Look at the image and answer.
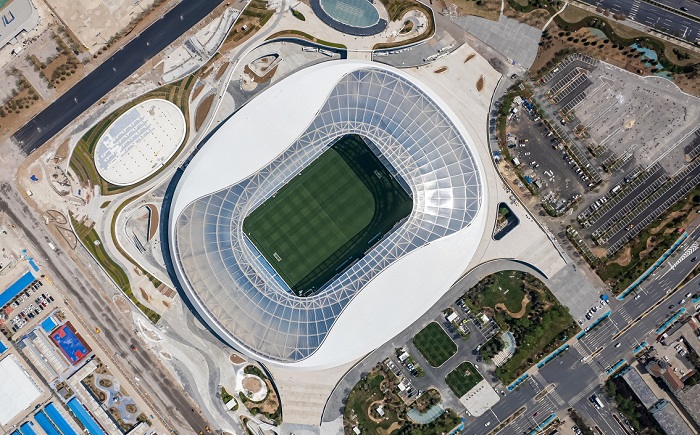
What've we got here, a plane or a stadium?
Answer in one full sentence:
Visible in the photo is a stadium.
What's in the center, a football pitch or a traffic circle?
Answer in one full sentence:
What appears in the center is a football pitch.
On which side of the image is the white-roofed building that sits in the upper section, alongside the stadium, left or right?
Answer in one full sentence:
The white-roofed building that sits in the upper section, alongside the stadium is on the left side of the image.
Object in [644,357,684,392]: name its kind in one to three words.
house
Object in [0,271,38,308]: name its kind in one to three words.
shed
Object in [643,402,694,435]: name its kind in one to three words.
building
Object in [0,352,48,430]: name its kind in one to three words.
building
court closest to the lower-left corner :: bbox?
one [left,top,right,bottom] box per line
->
[49,321,91,365]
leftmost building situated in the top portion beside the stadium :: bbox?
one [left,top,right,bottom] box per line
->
[94,98,189,185]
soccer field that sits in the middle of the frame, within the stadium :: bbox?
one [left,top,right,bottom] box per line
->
[241,133,416,297]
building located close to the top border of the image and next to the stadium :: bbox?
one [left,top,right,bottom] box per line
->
[310,0,387,36]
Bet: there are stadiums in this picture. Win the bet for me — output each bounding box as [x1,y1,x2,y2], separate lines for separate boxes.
[167,59,489,367]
